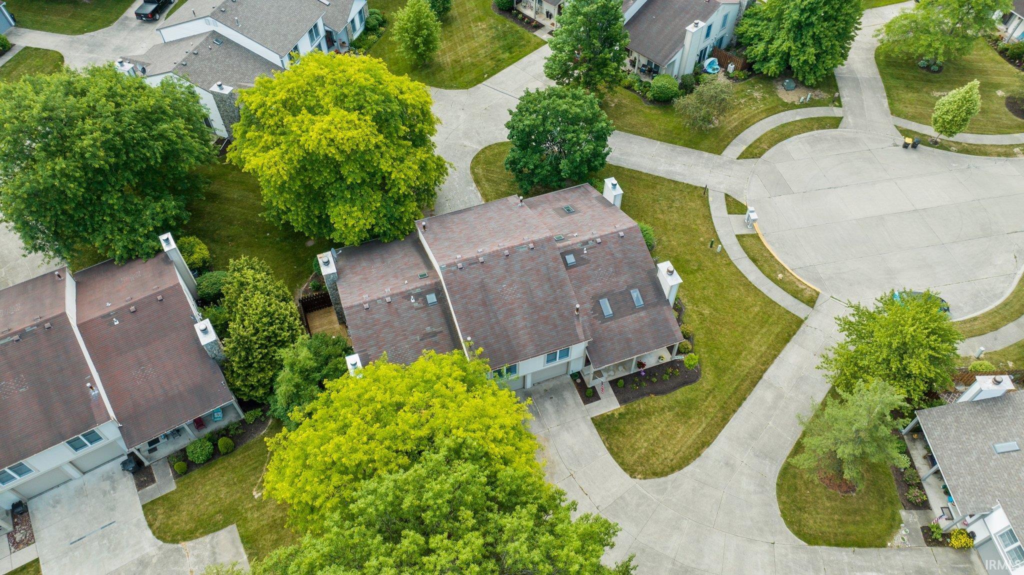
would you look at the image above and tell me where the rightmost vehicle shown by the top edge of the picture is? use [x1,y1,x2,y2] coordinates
[133,0,174,23]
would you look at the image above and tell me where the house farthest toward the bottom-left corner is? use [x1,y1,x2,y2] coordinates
[0,233,242,539]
